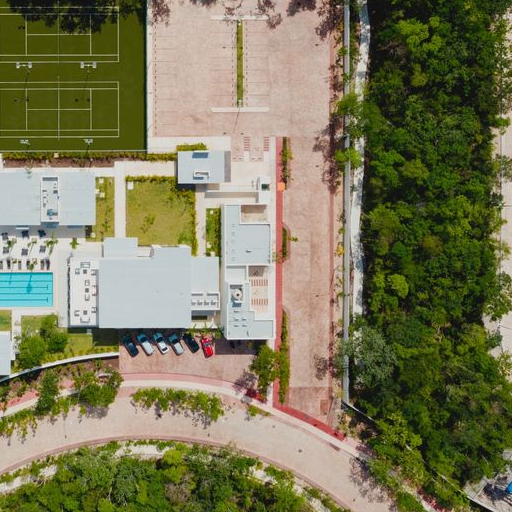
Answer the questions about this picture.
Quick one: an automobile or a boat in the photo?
automobile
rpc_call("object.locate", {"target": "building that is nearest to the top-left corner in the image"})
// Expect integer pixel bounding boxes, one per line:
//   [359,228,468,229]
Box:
[0,172,94,228]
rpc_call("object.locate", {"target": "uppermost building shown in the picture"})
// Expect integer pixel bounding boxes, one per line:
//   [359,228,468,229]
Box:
[177,151,231,184]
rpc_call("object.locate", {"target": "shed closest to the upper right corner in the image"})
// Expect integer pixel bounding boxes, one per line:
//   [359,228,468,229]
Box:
[255,177,270,203]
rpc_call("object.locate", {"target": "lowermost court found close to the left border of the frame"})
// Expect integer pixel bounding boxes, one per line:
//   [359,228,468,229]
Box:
[0,72,146,153]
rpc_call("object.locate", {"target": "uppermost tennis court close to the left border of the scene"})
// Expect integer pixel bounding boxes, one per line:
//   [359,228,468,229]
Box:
[0,0,146,72]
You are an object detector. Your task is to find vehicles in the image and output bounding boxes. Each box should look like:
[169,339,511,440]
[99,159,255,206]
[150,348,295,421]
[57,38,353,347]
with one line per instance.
[181,331,201,355]
[199,335,215,356]
[121,333,140,357]
[166,331,185,356]
[151,331,170,355]
[135,331,155,355]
